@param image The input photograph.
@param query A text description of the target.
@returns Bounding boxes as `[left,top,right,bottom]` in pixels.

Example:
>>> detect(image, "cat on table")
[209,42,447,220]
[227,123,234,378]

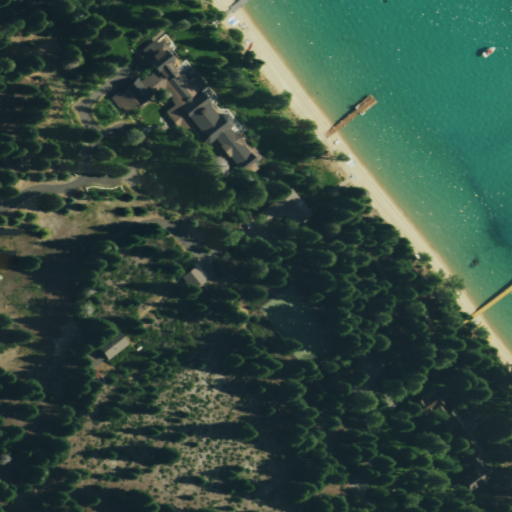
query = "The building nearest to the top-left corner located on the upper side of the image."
[112,92,140,113]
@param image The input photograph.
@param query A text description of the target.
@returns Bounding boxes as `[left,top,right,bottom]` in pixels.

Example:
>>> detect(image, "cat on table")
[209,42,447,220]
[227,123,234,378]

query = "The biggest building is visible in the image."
[130,34,263,172]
